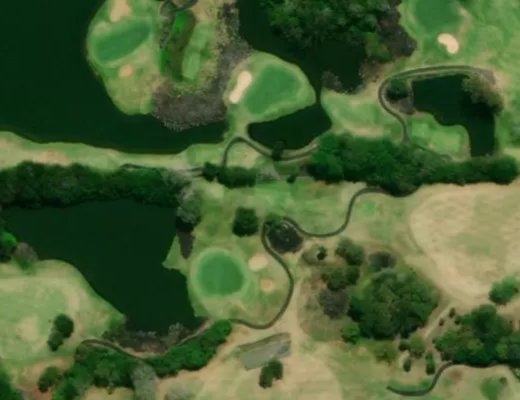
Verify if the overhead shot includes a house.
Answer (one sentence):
No, no house is visible in the scene.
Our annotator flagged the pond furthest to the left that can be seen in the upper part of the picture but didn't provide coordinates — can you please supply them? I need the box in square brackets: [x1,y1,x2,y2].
[238,0,367,150]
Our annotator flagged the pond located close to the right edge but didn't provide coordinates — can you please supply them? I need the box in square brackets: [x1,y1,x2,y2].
[412,73,497,161]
